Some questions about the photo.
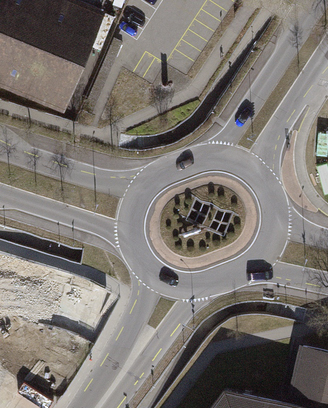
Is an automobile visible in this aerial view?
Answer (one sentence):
Yes, there's an automobile here.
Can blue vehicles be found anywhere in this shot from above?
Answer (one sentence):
Yes, there's a blue vehicle down there.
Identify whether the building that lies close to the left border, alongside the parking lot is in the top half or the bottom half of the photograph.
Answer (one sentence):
The top half of the photo is where the building that lies close to the left border, alongside the parking lot is.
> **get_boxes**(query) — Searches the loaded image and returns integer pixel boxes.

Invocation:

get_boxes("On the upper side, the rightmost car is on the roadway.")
[234,106,252,128]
